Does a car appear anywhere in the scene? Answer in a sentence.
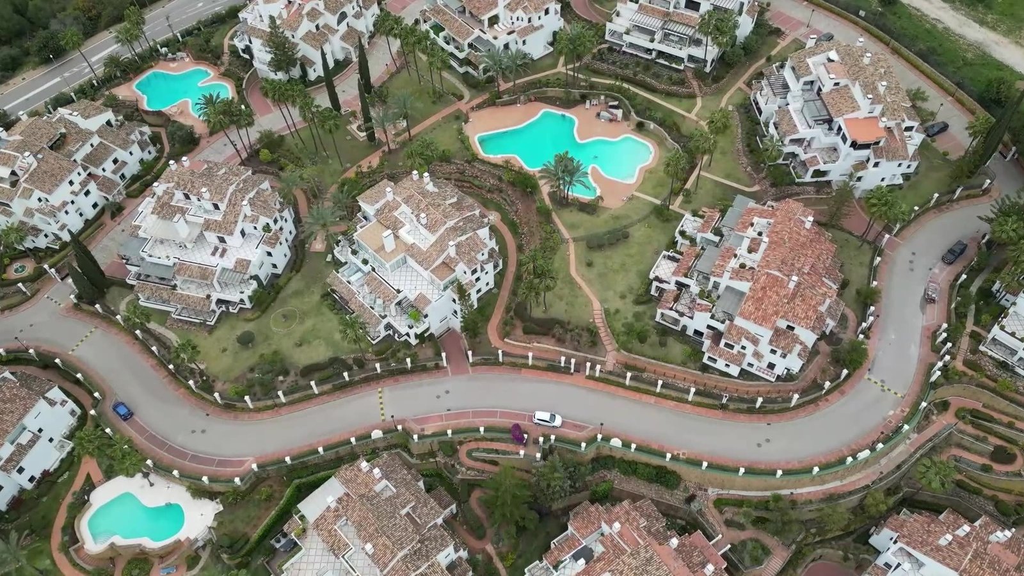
Yes, you can see a car in this photo.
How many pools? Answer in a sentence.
My tally gives 3 pools in this view.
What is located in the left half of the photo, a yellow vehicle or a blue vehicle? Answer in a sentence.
The feature located in the left half of the photo is a blue vehicle.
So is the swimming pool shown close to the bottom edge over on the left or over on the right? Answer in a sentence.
It is on the left.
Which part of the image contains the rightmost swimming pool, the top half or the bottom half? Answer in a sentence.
Seen from above, the rightmost swimming pool lies in the top half of the view.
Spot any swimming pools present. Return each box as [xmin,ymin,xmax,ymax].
[83,488,189,549]
[472,108,656,199]
[131,66,234,121]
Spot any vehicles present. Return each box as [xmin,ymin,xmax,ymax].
[926,120,951,135]
[531,410,564,430]
[109,400,133,423]
[925,280,942,302]
[943,239,970,262]
[818,29,835,40]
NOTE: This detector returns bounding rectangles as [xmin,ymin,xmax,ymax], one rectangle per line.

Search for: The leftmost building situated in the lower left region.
[0,374,86,527]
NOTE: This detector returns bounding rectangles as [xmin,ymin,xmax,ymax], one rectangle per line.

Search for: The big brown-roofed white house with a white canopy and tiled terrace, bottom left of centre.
[278,451,469,576]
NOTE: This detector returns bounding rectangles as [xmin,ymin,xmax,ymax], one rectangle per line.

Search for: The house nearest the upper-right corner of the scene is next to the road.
[745,35,925,204]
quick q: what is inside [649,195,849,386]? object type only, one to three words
house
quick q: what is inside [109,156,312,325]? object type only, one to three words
house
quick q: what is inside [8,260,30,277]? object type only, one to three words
fountain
